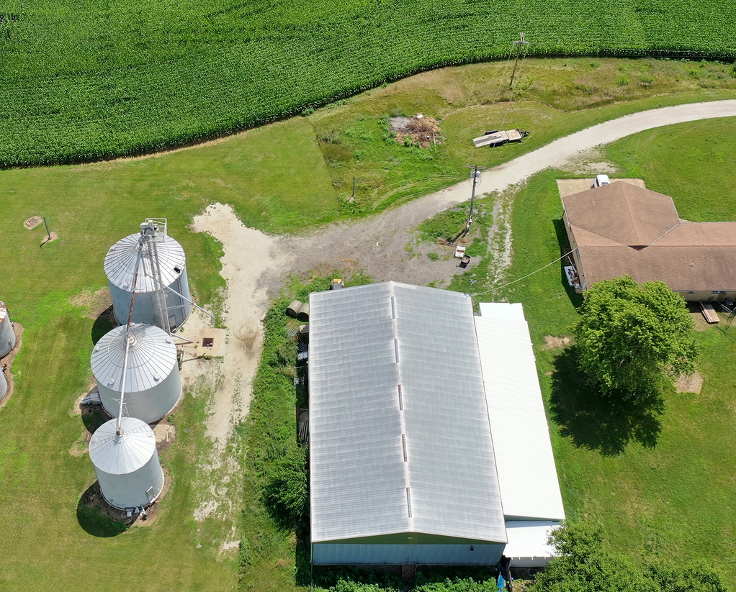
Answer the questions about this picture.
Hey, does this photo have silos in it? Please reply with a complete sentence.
Yes, there is a silo in the image.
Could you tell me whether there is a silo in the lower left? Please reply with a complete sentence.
Yes, looking in the lower left, one can make out a silo.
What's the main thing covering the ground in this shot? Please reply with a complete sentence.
The largest share of the image is taken up by grass.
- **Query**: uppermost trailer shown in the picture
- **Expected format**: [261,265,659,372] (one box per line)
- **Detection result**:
[472,125,531,150]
